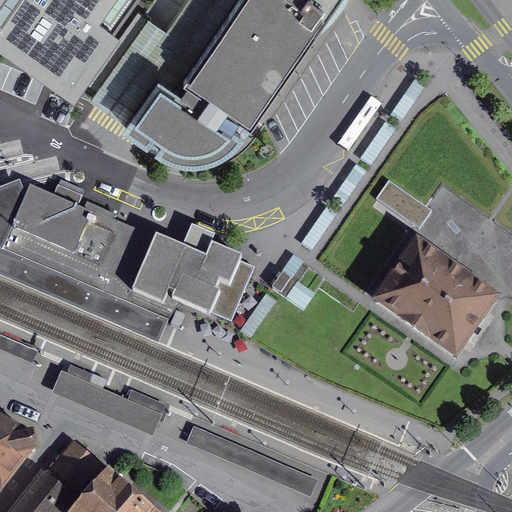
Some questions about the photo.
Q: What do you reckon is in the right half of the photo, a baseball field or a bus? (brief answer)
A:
bus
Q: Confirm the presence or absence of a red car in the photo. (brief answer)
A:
No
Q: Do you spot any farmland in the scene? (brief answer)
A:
No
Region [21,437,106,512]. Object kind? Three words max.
house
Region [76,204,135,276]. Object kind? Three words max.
building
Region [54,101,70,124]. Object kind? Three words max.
car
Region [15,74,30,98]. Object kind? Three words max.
car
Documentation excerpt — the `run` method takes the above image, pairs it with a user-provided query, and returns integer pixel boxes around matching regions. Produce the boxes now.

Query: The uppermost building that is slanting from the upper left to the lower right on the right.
[376,181,432,230]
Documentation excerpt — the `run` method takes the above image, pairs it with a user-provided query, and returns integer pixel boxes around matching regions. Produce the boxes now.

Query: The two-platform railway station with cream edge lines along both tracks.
[0,276,438,489]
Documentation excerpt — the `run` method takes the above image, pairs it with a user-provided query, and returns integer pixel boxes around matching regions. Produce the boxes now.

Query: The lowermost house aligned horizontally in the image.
[66,465,164,512]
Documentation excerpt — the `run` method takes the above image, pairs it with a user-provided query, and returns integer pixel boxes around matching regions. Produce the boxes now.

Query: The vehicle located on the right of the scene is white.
[338,94,384,152]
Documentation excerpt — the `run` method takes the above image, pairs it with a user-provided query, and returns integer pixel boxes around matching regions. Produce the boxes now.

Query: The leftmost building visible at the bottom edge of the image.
[0,408,38,492]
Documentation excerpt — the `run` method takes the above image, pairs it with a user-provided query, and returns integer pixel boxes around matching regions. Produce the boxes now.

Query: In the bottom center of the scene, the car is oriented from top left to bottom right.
[198,486,221,506]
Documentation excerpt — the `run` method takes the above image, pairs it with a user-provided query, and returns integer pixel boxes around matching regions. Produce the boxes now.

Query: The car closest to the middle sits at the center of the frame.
[200,212,226,230]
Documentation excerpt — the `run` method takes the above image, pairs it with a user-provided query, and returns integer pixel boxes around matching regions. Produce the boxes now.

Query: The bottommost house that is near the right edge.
[372,234,501,358]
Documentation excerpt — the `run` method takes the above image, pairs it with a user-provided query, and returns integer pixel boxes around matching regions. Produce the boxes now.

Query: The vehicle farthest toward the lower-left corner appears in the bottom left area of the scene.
[10,402,40,422]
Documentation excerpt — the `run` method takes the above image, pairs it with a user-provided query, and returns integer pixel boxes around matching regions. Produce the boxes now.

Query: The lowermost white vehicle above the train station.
[98,181,122,198]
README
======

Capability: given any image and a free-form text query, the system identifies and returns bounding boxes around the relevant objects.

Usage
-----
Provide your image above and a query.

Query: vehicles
[44,96,60,119]
[338,94,384,152]
[10,402,40,422]
[200,212,226,230]
[198,486,221,506]
[98,181,122,198]
[54,101,70,124]
[267,118,283,140]
[15,74,30,98]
